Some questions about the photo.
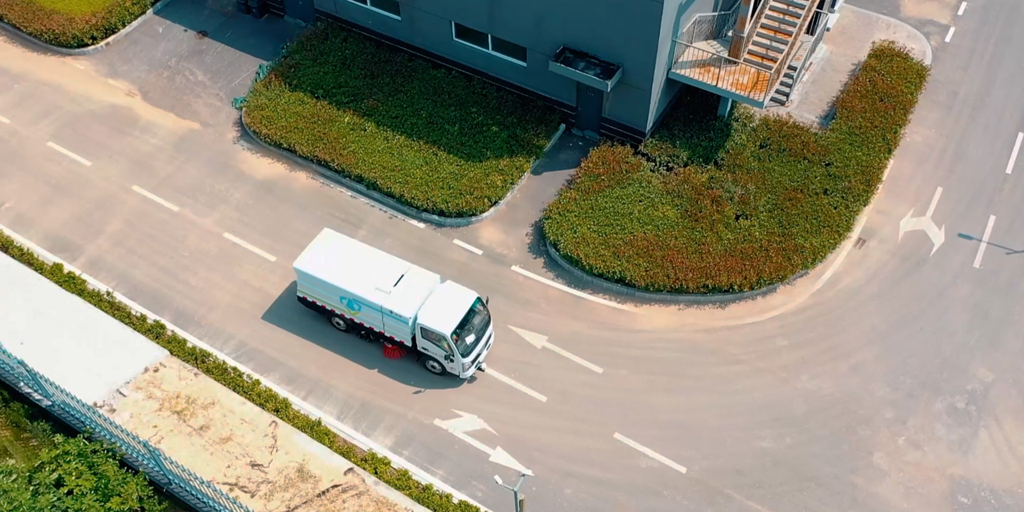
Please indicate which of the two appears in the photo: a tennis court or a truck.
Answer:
truck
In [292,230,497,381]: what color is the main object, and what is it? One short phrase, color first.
white truck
